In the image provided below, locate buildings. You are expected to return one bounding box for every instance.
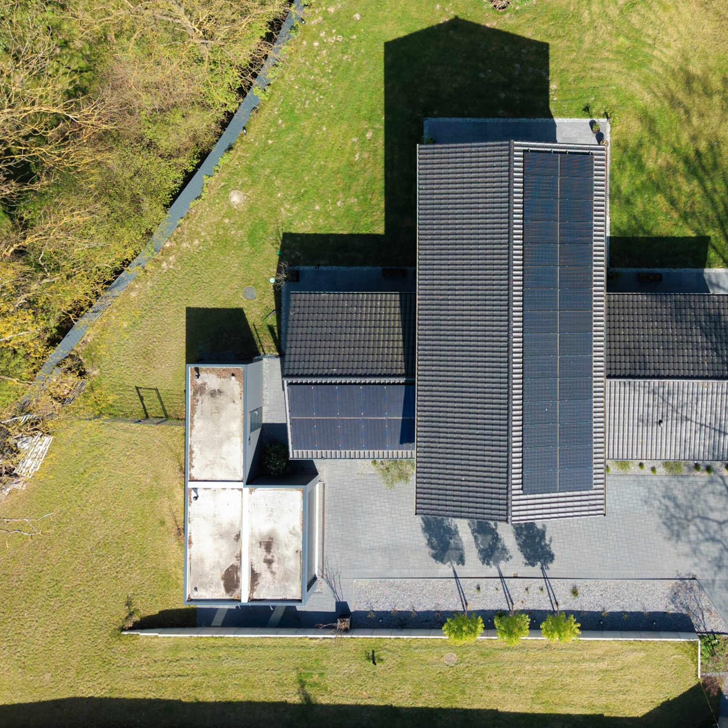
[280,137,728,527]
[185,360,324,604]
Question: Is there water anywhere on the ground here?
No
